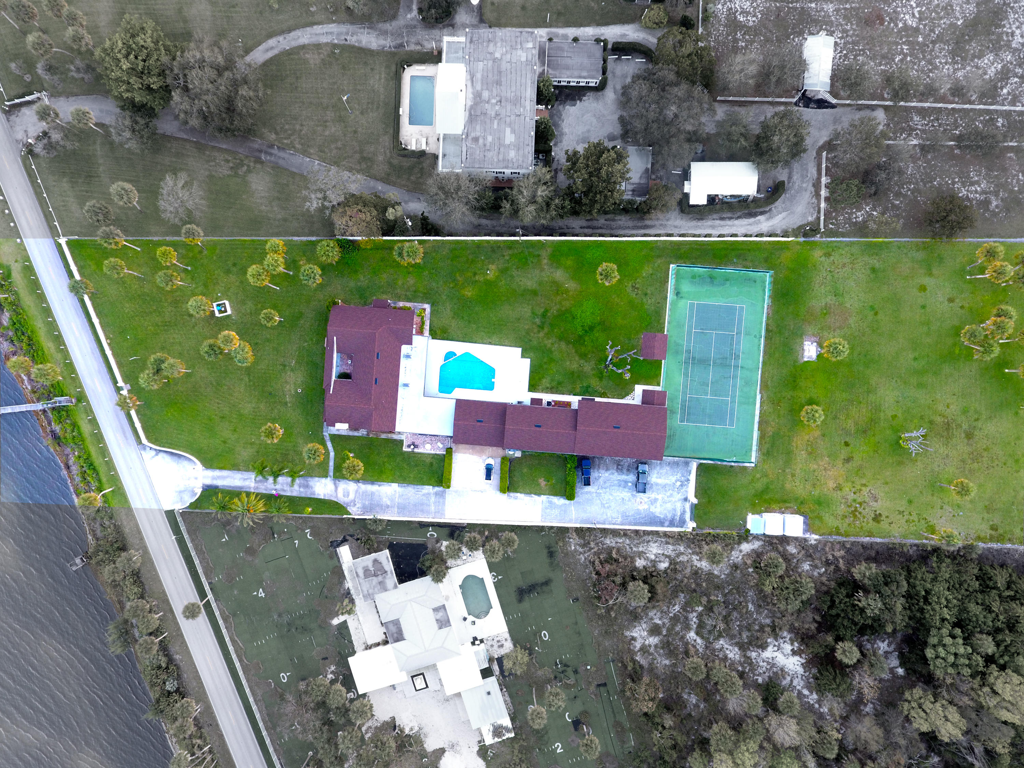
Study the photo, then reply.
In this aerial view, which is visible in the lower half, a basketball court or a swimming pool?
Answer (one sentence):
The feature located in the lower half is a swimming pool.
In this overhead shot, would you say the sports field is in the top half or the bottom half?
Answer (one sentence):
Seen from above, the sports field lies in the bottom half of the view.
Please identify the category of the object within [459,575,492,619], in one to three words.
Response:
swimming pool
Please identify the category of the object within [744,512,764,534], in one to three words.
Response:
shed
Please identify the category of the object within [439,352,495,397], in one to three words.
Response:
swimming pool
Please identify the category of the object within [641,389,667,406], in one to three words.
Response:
building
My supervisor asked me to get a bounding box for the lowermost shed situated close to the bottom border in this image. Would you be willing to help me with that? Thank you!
[461,674,515,746]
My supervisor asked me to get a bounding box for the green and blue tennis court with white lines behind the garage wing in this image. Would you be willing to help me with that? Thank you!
[660,264,774,467]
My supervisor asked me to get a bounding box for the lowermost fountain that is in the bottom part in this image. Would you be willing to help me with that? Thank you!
[411,672,429,692]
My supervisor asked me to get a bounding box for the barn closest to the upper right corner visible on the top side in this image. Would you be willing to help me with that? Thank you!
[799,30,834,95]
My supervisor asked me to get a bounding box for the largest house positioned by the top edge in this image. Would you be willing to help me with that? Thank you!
[436,28,539,189]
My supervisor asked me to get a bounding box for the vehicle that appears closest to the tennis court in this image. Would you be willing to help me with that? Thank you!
[636,462,650,494]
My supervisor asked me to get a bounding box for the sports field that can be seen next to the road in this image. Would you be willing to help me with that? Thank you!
[198,521,632,768]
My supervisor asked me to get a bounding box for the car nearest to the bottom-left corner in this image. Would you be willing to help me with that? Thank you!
[483,458,495,482]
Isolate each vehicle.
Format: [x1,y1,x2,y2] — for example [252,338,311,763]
[581,459,592,487]
[483,458,495,482]
[636,462,650,494]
